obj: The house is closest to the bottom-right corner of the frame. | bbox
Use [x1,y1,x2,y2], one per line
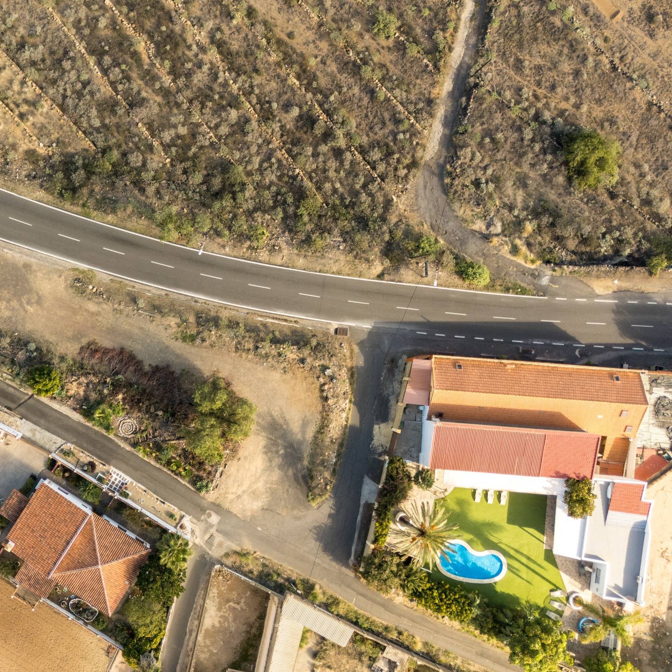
[578,473,654,607]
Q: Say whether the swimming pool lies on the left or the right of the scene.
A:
right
